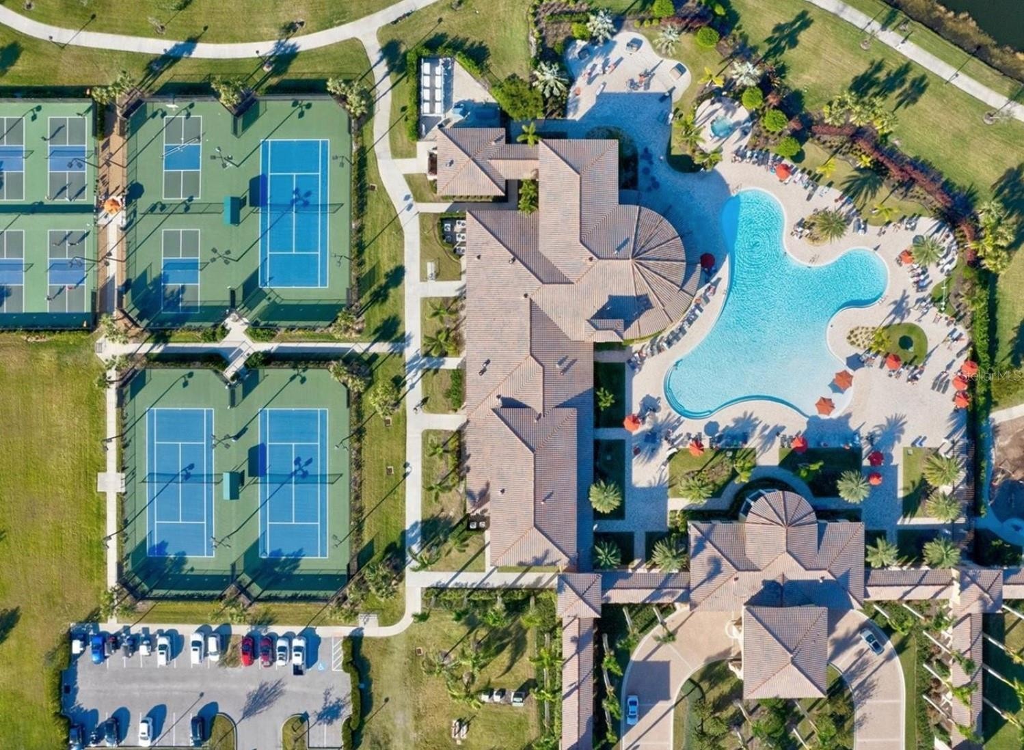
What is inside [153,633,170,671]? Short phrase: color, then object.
white vehicle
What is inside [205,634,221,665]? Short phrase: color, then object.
white car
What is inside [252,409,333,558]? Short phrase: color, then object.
blue tennis court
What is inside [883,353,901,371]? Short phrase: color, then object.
red umbrella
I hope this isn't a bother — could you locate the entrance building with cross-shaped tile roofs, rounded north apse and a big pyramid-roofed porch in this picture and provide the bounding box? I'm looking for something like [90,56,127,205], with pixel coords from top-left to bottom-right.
[686,483,865,700]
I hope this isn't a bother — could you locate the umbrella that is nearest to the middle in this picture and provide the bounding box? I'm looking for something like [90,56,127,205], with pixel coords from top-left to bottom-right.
[623,414,641,432]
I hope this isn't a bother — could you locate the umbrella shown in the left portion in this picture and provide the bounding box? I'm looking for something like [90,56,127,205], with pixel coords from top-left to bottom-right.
[105,195,123,212]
